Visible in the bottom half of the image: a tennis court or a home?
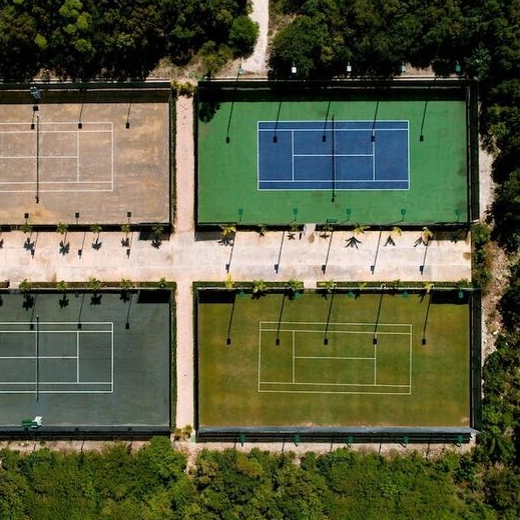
tennis court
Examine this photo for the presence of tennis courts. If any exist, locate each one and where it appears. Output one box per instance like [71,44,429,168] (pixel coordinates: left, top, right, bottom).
[198,87,469,223]
[0,290,169,426]
[200,289,472,426]
[0,89,169,224]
